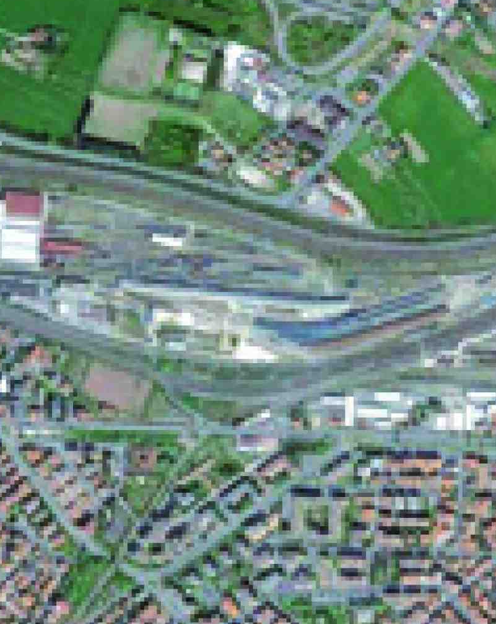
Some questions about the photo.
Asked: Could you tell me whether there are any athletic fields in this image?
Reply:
Yes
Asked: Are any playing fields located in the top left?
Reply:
Yes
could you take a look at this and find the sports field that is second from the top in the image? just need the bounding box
[82,93,159,148]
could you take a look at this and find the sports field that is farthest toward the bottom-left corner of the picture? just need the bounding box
[87,364,150,409]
